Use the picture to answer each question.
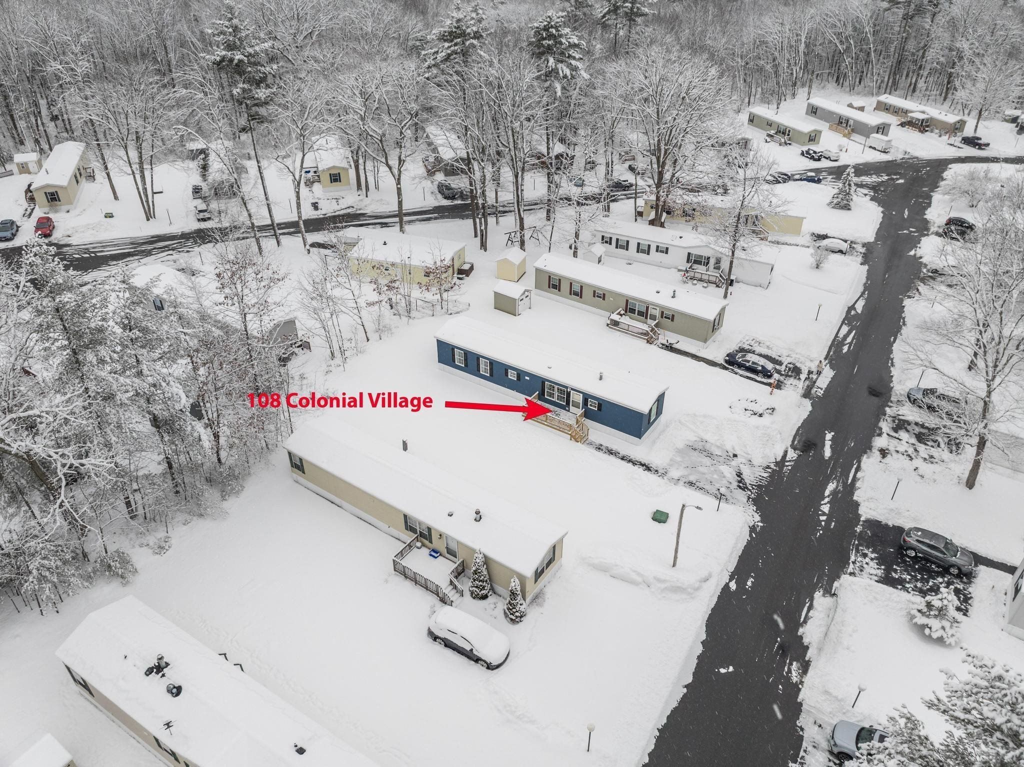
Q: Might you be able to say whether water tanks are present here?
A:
No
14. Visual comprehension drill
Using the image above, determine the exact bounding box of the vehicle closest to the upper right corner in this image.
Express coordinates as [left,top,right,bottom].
[959,138,991,151]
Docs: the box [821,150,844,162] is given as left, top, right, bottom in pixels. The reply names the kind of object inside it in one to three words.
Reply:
vehicle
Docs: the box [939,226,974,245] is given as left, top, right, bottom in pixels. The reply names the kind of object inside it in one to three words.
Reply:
car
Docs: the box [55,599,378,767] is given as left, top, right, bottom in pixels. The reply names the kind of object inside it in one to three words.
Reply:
house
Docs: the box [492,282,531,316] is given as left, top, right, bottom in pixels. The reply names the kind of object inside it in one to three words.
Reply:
shed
